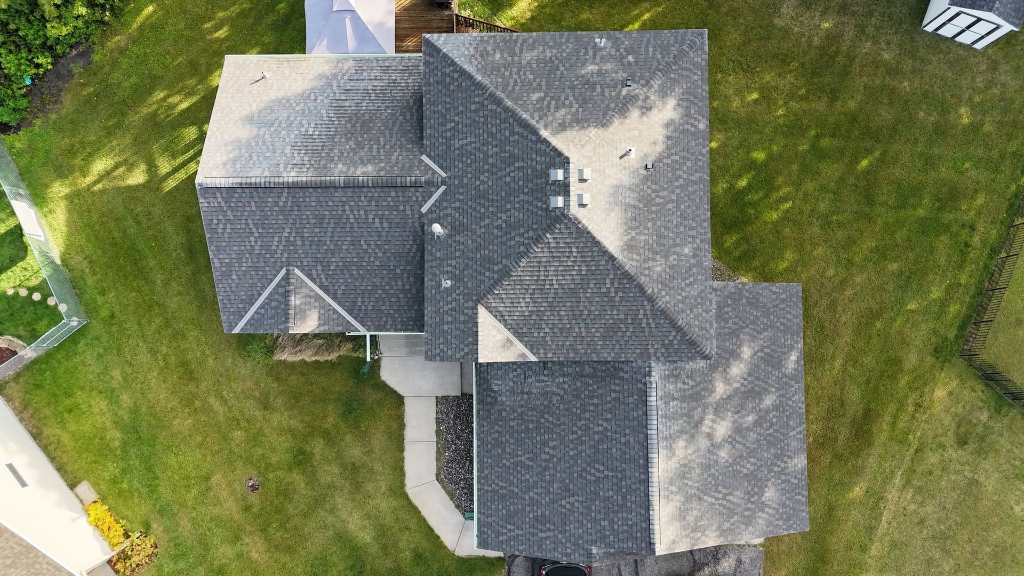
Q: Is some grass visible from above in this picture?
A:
Yes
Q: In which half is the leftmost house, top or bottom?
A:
bottom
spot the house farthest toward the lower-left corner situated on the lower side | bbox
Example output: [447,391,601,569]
[0,395,143,576]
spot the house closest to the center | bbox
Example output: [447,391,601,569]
[195,28,808,566]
